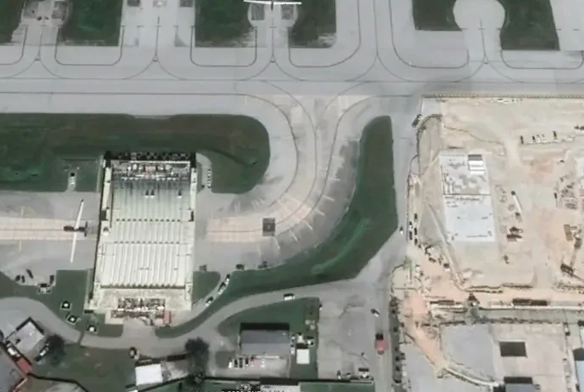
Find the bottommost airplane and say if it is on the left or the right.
left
